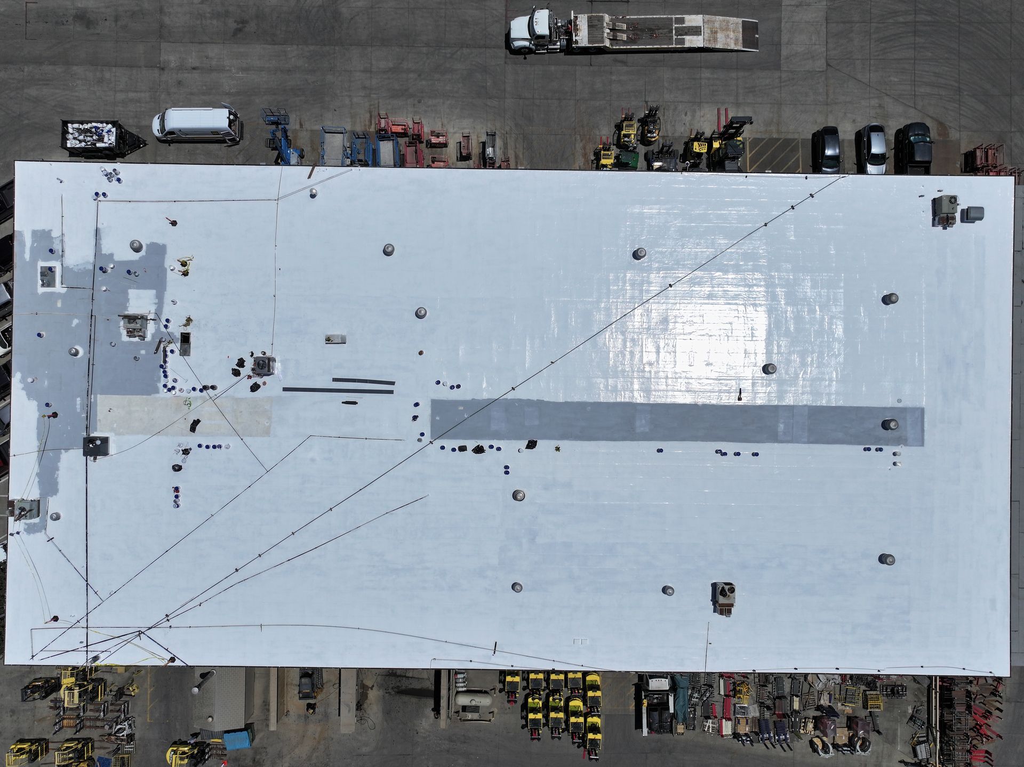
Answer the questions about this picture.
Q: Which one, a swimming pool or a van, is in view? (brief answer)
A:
van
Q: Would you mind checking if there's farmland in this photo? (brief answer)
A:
No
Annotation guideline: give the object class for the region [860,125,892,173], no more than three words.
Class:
car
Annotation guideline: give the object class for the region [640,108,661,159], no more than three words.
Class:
work vehicle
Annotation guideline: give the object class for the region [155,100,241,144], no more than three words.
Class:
van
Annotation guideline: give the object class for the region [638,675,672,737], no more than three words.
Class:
truck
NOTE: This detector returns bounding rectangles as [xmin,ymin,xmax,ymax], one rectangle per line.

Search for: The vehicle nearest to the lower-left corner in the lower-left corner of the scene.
[2,732,57,767]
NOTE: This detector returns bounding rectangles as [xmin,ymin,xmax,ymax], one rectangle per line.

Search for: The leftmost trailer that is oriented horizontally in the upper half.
[59,119,149,156]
